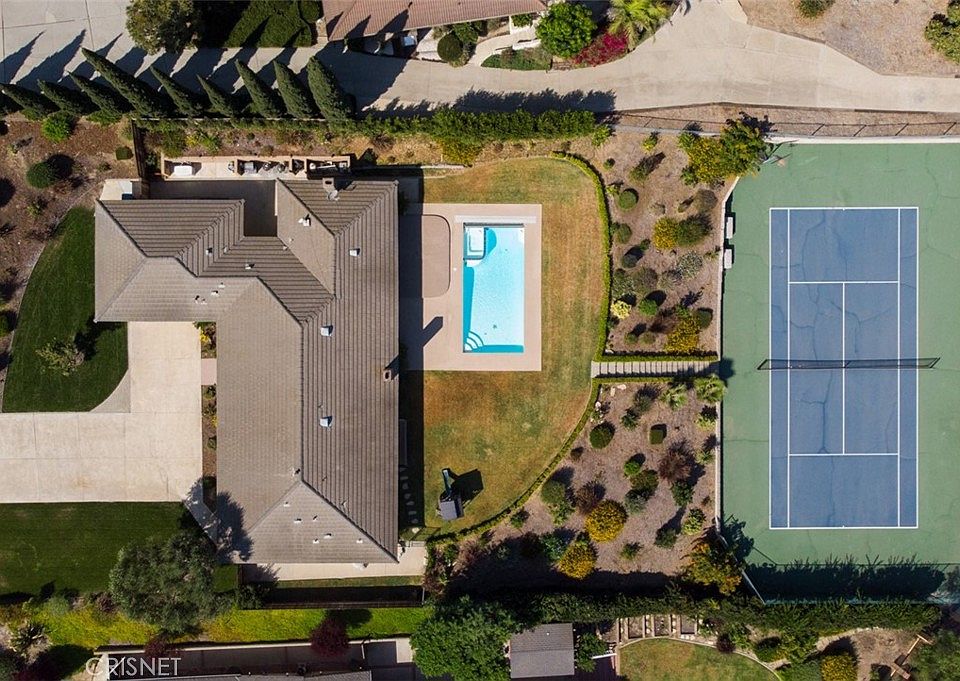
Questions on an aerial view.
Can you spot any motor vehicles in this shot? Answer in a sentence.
No, the frame has no motor vehicle in it.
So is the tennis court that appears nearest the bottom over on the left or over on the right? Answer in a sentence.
The tennis court that appears nearest the bottom appears in the right half of the scene.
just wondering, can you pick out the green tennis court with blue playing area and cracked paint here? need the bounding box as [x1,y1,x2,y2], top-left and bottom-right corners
[718,146,960,606]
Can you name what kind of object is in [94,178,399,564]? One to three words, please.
house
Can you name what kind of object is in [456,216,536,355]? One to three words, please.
swimming pool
